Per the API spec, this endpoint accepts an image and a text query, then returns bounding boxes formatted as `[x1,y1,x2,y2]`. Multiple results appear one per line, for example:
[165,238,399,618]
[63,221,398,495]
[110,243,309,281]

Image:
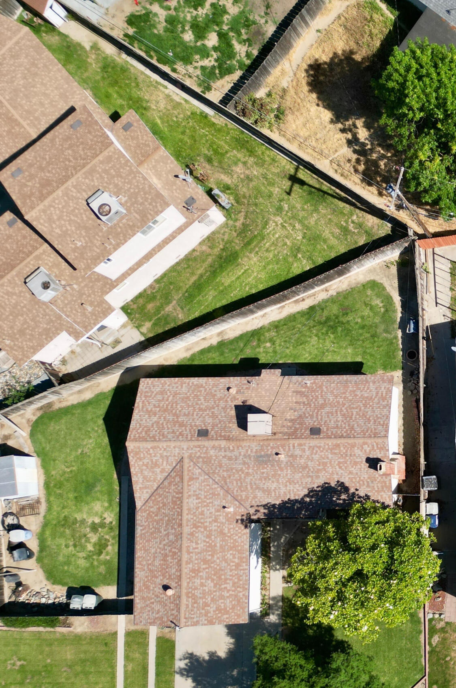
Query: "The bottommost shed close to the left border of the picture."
[0,456,59,497]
